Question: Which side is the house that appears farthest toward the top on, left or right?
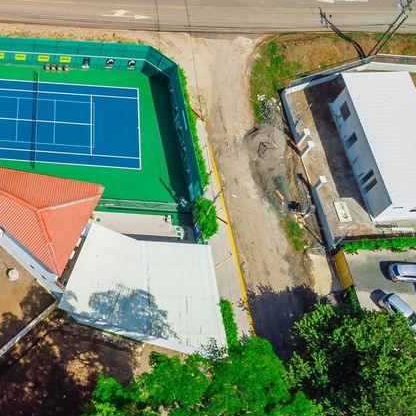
right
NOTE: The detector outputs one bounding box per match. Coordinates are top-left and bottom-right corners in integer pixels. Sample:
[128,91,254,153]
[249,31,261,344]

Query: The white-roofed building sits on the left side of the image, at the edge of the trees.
[60,222,230,361]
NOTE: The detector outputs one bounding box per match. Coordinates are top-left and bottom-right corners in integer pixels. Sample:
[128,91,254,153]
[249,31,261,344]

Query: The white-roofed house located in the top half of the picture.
[329,73,416,221]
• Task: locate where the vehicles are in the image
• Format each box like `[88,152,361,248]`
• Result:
[380,291,416,325]
[389,264,416,286]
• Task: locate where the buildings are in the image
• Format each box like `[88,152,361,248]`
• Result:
[329,73,416,221]
[0,168,106,291]
[60,222,230,361]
